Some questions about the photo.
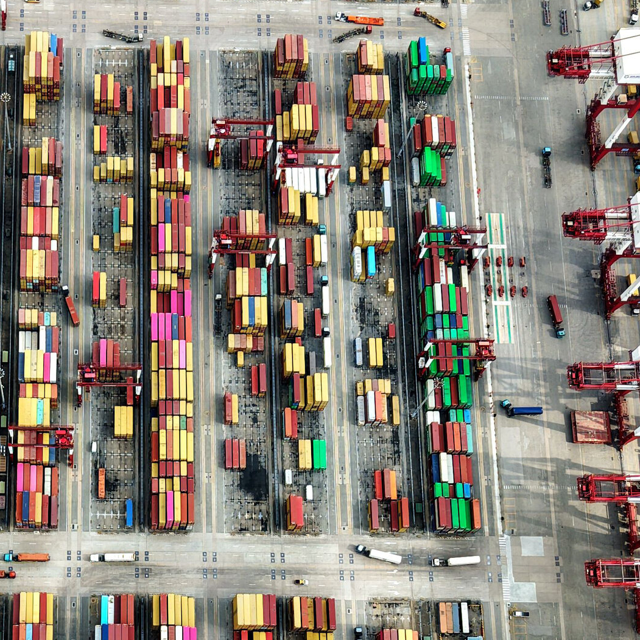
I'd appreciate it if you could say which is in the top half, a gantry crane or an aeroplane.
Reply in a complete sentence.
The feature located in the top half is a gantry crane.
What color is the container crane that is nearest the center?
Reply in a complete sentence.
From above, the container crane that is nearest the center appears red.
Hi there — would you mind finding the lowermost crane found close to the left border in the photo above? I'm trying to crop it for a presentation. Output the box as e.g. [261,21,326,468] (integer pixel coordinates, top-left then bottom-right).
[7,423,74,468]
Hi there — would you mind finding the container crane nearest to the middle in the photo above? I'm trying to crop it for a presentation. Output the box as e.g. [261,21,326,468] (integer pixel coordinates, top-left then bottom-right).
[208,230,277,280]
